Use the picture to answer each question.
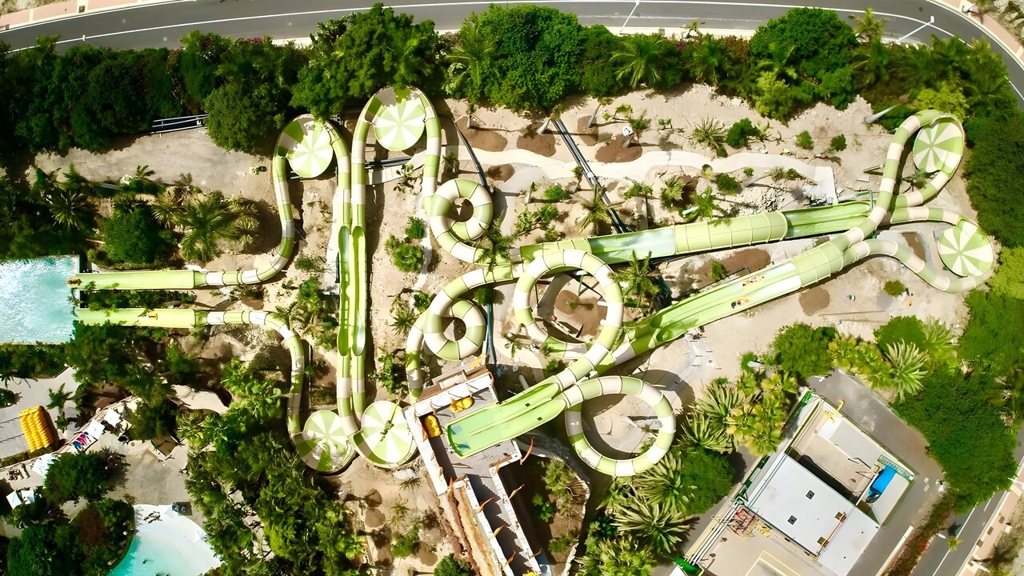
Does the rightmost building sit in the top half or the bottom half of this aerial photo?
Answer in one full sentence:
You can find the rightmost building in the bottom half.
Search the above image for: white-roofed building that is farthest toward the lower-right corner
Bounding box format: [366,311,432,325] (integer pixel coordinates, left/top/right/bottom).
[741,449,880,576]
